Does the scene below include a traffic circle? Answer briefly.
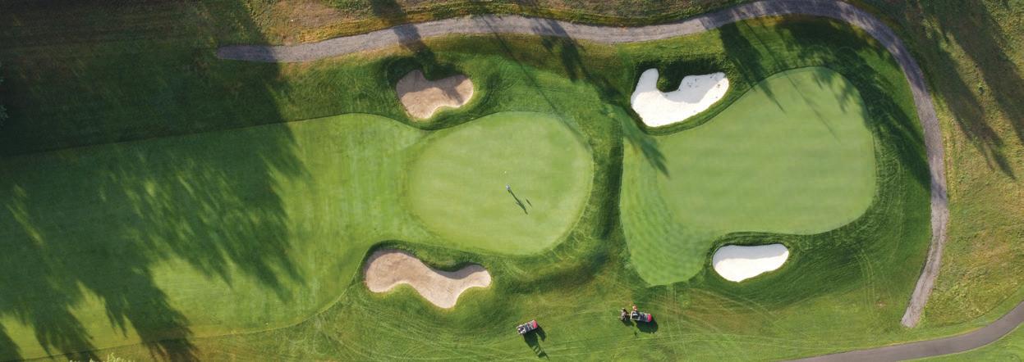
No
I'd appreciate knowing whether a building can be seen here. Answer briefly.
No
